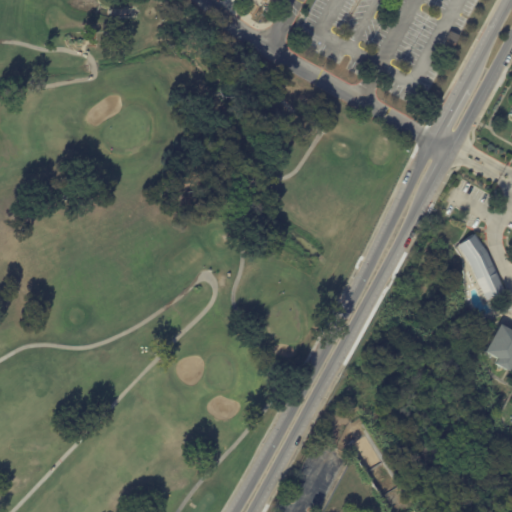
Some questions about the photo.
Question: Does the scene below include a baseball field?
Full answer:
No, no baseball field can be seen from above.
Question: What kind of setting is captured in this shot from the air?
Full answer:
The picture captures a golf course.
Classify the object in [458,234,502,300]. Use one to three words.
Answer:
building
